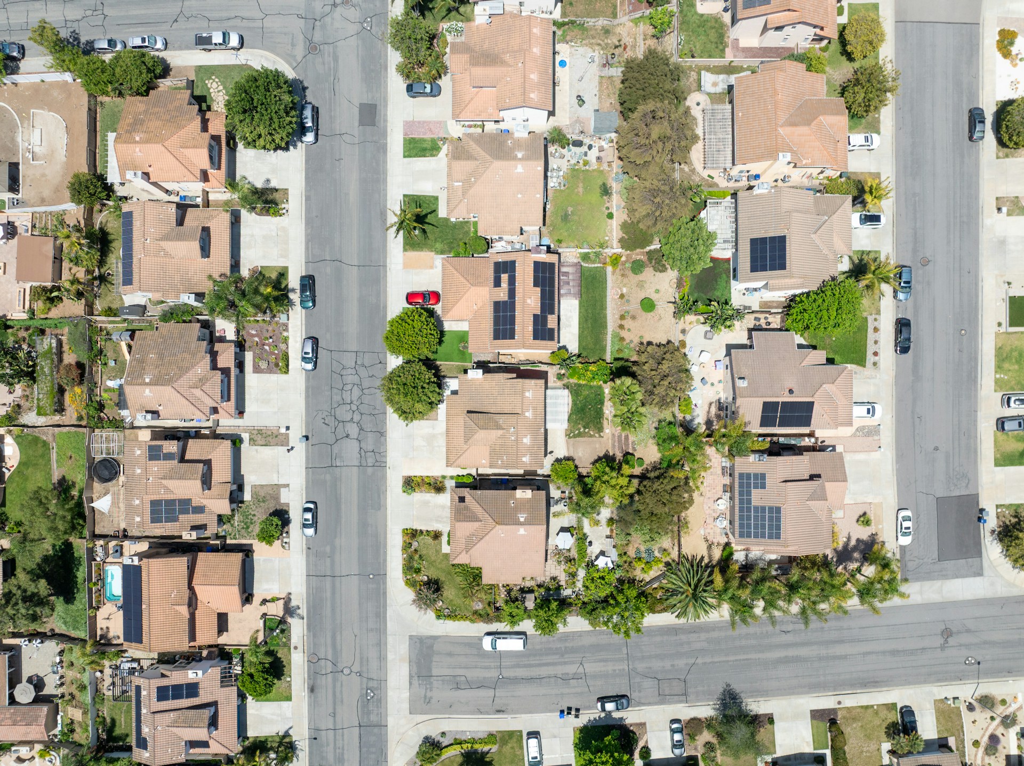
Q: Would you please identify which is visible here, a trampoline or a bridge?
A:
trampoline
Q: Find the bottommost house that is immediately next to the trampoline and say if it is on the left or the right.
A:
left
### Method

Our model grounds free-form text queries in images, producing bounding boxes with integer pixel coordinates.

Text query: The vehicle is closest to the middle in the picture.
[407,289,439,306]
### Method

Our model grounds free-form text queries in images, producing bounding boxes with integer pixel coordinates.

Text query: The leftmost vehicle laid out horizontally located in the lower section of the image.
[483,632,527,653]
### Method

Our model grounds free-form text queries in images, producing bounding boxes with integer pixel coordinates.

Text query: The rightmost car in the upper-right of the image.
[967,107,988,143]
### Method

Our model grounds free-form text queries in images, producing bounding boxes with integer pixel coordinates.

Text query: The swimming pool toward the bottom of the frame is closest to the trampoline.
[104,565,121,603]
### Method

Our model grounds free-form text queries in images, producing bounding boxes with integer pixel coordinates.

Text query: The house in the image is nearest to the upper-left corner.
[109,90,231,194]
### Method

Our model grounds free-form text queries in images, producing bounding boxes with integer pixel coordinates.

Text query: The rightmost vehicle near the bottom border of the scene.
[899,702,921,738]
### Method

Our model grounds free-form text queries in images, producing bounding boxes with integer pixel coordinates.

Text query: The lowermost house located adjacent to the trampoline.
[123,439,240,539]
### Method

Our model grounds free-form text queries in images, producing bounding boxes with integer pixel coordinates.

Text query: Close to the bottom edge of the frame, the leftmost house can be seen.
[0,648,60,742]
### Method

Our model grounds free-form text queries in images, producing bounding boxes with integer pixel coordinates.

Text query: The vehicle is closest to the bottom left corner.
[300,501,318,537]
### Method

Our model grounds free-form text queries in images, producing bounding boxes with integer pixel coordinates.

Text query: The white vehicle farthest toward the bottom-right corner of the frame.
[896,509,915,545]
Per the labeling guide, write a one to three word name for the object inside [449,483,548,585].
house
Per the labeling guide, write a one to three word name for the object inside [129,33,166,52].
car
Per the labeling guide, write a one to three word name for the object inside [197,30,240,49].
vehicle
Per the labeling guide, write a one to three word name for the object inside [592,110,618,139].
shed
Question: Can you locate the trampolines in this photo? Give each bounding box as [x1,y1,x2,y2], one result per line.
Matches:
[89,457,119,485]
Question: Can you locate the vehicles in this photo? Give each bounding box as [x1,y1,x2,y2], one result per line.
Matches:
[129,33,166,52]
[406,79,441,98]
[995,416,1024,433]
[848,131,883,150]
[93,36,126,54]
[967,107,988,143]
[300,501,318,537]
[896,509,915,545]
[894,319,913,354]
[407,289,439,306]
[595,694,631,713]
[895,265,914,301]
[298,274,316,310]
[526,731,543,766]
[483,632,527,653]
[670,720,687,757]
[300,105,318,142]
[300,336,318,371]
[899,702,921,738]
[854,402,886,419]
[197,30,240,49]
[1001,394,1024,408]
